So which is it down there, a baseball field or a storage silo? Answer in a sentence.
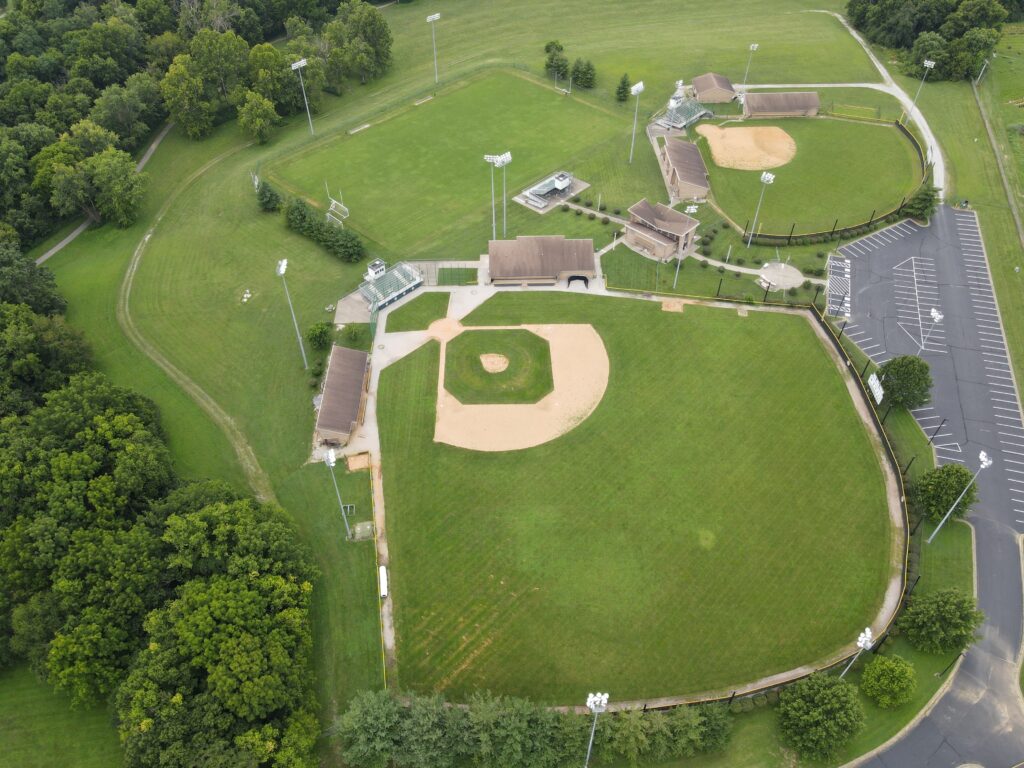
The image shows a baseball field.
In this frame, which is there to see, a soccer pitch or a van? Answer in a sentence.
Of the two, only a soccer pitch appears.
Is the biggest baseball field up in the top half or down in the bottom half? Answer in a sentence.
It is in the bottom half that the biggest baseball field appears.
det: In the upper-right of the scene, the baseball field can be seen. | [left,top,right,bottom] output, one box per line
[690,116,924,236]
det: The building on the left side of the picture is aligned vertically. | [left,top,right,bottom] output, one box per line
[311,345,369,446]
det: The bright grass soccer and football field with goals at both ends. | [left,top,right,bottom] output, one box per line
[269,70,631,260]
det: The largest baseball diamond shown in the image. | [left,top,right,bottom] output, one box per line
[348,290,910,710]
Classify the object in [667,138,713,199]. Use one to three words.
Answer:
building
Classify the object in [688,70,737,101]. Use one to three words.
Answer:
building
